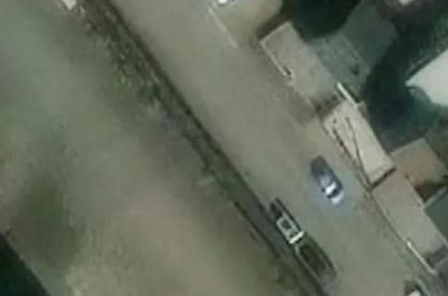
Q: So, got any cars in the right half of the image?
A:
Yes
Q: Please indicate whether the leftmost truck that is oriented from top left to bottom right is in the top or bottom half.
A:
bottom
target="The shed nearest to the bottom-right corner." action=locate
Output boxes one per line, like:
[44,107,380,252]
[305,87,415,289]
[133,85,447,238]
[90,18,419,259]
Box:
[392,138,447,188]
